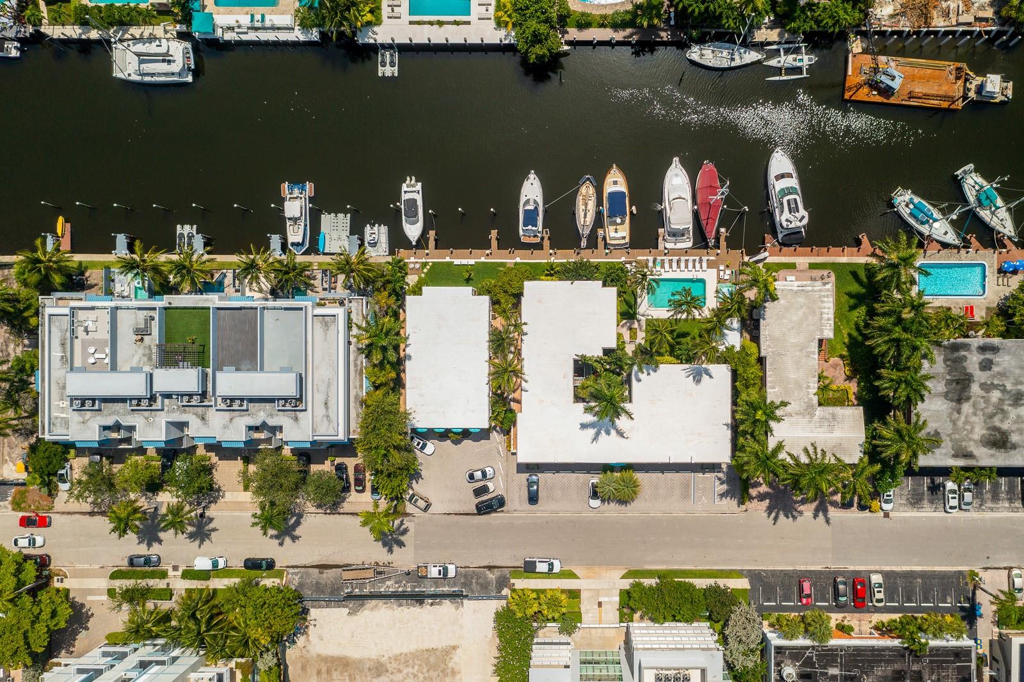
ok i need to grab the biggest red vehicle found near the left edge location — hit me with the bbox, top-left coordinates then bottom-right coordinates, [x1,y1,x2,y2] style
[18,510,53,528]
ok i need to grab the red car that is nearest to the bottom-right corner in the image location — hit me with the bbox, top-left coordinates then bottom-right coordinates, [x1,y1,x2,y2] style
[851,577,867,608]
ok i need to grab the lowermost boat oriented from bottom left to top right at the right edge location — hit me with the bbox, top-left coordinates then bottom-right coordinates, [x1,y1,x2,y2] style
[949,162,974,180]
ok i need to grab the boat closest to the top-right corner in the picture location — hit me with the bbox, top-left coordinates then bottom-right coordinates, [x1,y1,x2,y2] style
[961,63,1012,108]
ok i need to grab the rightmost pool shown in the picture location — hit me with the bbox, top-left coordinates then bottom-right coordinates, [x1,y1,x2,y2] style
[915,259,990,300]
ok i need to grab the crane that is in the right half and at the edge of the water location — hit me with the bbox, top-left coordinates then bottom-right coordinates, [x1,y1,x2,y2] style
[846,5,903,100]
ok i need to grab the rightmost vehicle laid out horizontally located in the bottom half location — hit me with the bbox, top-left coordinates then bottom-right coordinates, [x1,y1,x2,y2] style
[523,556,561,574]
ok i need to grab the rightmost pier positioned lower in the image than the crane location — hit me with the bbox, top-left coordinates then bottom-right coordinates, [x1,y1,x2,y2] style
[764,233,1024,274]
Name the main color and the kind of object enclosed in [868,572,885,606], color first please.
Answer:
white car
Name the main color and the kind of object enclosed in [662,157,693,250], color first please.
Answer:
white boat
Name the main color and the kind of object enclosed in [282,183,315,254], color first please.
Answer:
white boat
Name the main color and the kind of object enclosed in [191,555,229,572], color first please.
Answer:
white vehicle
